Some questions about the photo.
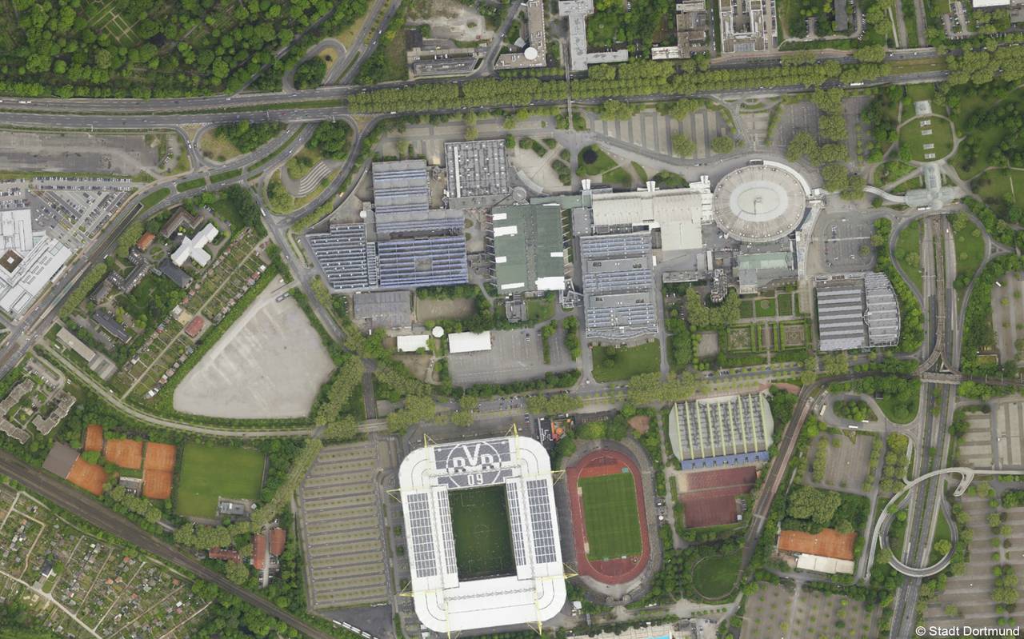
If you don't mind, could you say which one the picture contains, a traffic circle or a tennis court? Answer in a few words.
tennis court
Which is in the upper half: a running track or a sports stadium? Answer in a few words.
sports stadium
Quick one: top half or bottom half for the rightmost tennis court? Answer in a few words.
bottom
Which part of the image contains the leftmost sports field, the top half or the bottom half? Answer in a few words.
bottom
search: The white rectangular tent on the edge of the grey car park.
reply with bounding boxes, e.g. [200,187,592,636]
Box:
[448,331,491,353]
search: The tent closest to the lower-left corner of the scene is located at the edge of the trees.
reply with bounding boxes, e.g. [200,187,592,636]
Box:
[397,335,429,352]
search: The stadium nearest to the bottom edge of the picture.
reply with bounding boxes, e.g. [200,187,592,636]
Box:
[389,421,578,639]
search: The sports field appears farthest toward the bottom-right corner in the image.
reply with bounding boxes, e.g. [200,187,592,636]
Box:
[691,553,740,600]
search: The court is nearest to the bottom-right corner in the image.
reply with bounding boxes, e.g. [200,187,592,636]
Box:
[778,528,856,560]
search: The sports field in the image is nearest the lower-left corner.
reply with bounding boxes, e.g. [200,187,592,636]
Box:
[175,444,265,518]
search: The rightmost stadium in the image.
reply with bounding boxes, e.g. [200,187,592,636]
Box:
[713,164,806,242]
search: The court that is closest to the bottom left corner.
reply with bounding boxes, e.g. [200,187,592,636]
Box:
[66,456,107,494]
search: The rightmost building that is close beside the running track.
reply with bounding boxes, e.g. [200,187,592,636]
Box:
[668,392,772,469]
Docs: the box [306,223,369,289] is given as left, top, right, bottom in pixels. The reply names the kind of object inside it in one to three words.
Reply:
building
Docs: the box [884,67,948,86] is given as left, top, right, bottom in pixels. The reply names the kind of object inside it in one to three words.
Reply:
overpass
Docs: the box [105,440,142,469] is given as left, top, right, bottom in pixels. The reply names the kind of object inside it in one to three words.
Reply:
tennis court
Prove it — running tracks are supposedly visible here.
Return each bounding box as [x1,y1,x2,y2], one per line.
[555,431,665,603]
